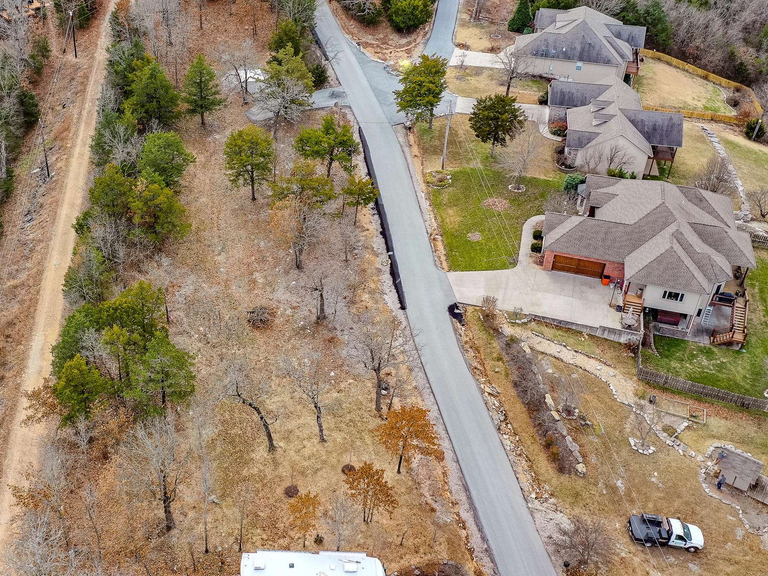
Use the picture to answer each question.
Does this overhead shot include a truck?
Yes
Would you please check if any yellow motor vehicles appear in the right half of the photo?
No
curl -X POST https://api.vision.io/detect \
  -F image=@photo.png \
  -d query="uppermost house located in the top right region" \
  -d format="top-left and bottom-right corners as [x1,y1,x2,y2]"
[514,8,660,92]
